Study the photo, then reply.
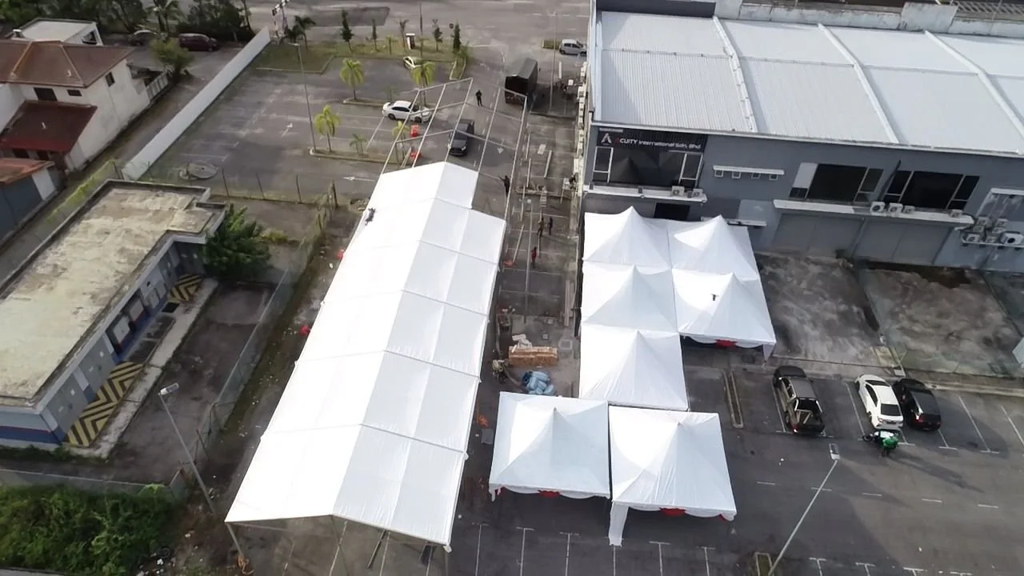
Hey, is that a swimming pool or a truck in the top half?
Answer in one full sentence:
Visible in the top half is a truck.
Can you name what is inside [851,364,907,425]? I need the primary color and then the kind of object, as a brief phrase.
white car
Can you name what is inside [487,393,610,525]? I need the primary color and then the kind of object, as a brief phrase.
white tent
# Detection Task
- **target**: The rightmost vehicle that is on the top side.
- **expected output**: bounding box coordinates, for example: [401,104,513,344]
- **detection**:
[561,39,586,56]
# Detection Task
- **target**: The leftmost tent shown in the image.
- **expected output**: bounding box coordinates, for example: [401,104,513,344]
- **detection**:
[217,76,526,576]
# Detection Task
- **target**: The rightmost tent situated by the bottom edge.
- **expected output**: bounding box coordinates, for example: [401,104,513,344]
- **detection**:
[607,406,739,548]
